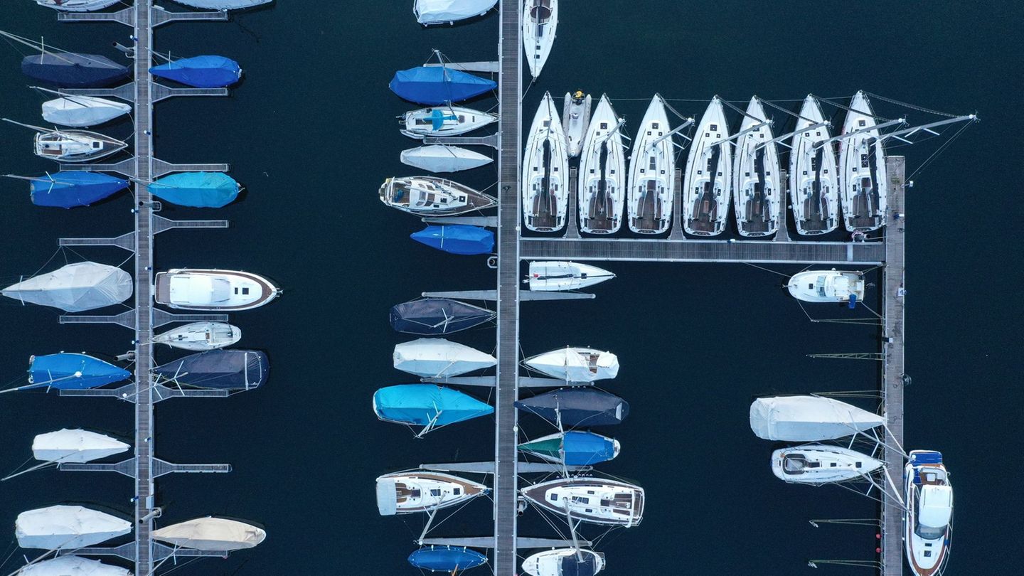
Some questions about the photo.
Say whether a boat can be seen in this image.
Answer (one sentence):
Yes, a boat is visible in the scene.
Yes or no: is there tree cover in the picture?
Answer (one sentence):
No, there's no tree cover in this view.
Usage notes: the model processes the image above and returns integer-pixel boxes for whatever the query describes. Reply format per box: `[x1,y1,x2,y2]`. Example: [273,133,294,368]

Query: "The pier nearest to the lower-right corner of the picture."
[869,156,905,576]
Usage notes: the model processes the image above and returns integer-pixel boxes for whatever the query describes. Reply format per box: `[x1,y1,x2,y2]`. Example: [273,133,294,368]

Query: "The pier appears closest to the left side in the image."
[56,0,230,576]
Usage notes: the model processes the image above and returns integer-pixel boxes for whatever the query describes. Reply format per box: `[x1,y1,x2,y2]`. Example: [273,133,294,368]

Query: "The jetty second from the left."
[416,0,598,576]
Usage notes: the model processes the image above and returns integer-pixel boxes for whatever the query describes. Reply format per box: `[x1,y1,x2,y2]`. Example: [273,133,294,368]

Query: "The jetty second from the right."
[520,167,885,264]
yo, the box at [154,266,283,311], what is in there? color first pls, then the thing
white boat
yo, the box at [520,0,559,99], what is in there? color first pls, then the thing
white boat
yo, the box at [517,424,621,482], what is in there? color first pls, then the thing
blue boat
